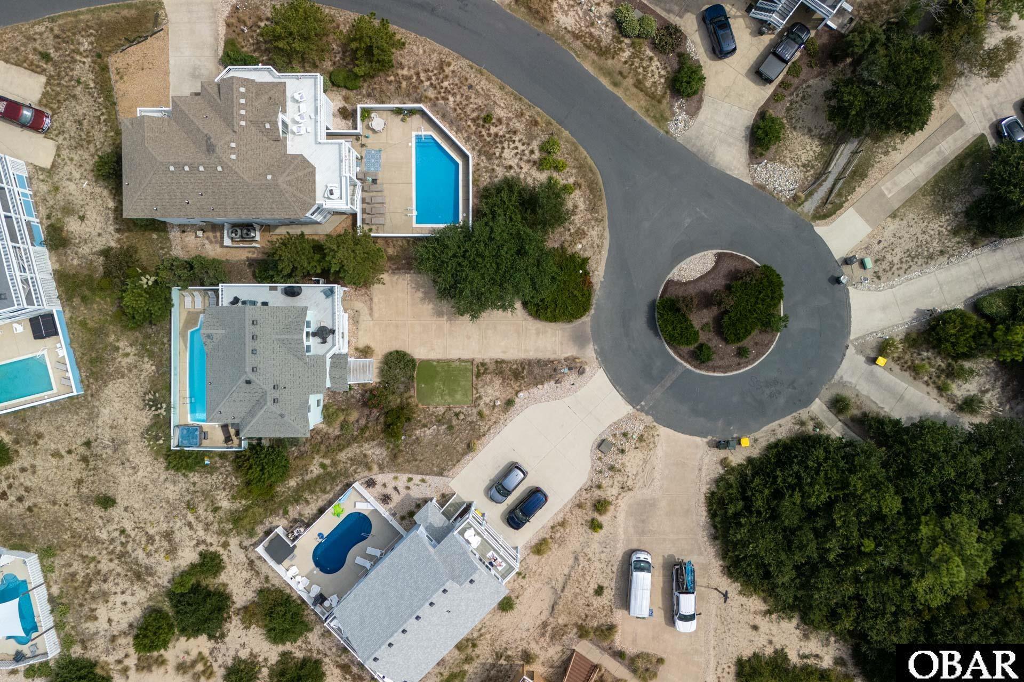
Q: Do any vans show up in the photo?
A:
Yes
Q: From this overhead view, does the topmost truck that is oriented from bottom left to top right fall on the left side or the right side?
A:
right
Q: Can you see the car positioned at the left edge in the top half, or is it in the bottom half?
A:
top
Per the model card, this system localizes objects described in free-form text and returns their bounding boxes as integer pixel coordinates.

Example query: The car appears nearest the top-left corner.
[0,97,56,133]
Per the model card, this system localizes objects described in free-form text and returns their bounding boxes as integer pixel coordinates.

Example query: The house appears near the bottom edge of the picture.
[324,492,519,682]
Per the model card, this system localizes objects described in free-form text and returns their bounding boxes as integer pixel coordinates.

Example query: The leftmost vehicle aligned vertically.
[626,548,654,620]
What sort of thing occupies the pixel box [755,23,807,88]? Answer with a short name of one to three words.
truck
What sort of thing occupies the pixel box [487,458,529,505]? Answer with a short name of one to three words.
car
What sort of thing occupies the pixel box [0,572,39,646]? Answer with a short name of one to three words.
swimming pool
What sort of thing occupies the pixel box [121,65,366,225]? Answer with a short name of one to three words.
house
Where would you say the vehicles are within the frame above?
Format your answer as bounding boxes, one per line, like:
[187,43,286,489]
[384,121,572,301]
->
[671,562,699,629]
[0,97,56,133]
[755,23,807,88]
[505,482,552,530]
[992,107,1024,157]
[702,7,736,63]
[626,548,654,620]
[487,458,529,505]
